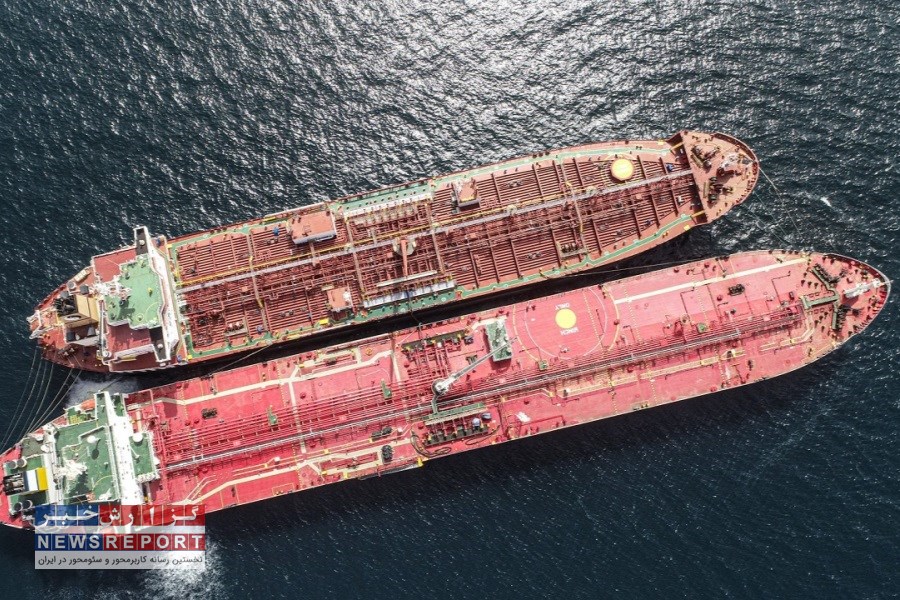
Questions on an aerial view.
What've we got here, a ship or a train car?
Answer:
ship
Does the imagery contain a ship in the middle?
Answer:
Yes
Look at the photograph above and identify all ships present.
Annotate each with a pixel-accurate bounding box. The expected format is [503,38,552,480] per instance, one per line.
[25,129,760,372]
[0,247,896,540]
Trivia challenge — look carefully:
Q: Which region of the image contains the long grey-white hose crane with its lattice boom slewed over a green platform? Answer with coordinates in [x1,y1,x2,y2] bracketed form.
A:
[430,335,519,398]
